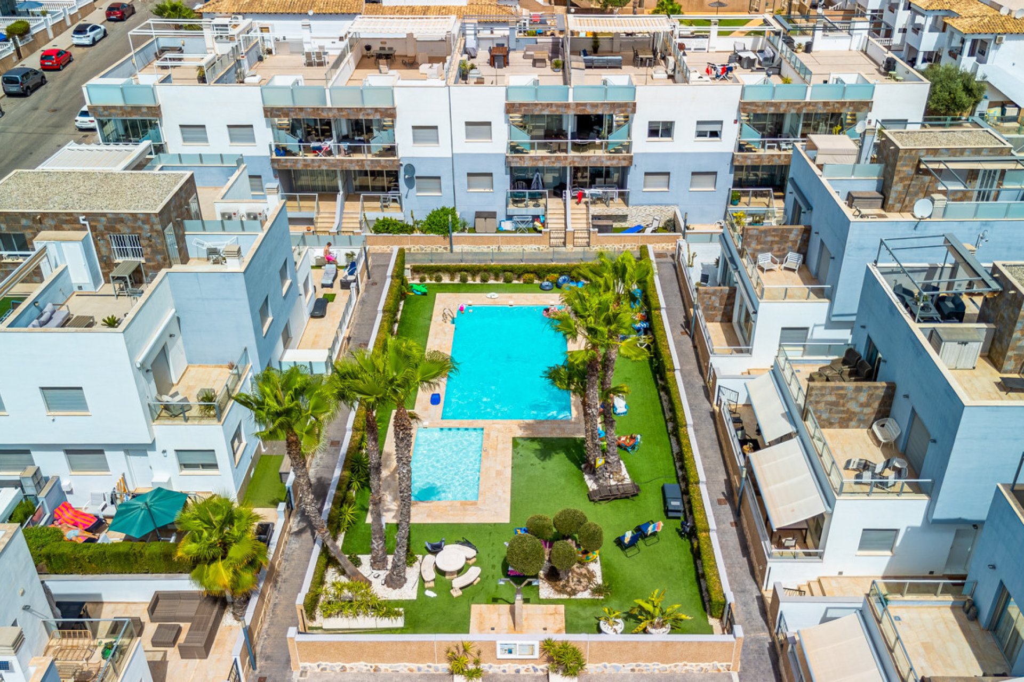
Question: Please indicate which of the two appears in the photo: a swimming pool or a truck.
swimming pool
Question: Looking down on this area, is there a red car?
Yes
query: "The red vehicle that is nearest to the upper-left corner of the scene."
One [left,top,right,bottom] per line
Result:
[38,45,76,68]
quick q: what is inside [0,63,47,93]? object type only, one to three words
car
